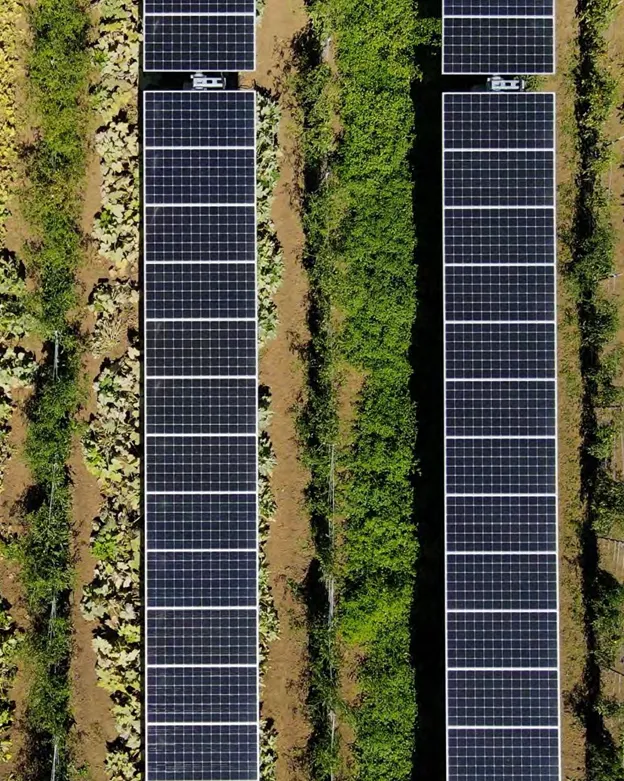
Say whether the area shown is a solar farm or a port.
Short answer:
solar farm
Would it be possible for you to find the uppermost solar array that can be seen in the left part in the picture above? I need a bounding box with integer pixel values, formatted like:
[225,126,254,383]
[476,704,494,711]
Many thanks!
[143,0,256,79]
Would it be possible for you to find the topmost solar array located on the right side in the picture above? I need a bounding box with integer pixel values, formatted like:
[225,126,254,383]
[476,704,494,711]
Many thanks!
[441,0,555,82]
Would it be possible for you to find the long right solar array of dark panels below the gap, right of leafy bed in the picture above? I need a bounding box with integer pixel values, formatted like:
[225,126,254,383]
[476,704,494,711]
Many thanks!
[442,91,561,781]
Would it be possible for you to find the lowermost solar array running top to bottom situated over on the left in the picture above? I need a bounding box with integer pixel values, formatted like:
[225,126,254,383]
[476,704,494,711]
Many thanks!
[143,91,259,781]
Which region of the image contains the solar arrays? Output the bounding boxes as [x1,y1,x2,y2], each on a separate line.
[441,0,555,82]
[143,0,256,79]
[442,91,561,781]
[143,91,259,781]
